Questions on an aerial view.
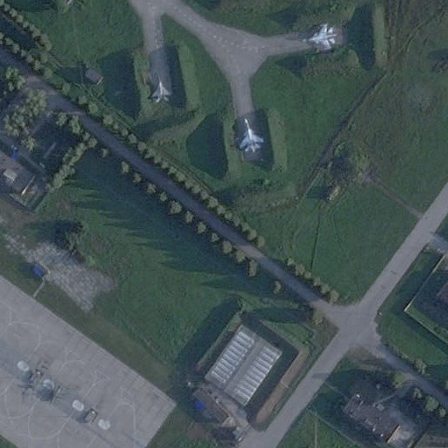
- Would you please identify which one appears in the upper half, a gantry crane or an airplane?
airplane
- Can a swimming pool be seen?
No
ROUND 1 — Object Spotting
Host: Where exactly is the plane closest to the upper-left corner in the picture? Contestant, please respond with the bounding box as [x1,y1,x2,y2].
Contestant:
[154,81,170,105]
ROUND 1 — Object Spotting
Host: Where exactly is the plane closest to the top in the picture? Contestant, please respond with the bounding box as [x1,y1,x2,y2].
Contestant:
[302,23,338,47]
